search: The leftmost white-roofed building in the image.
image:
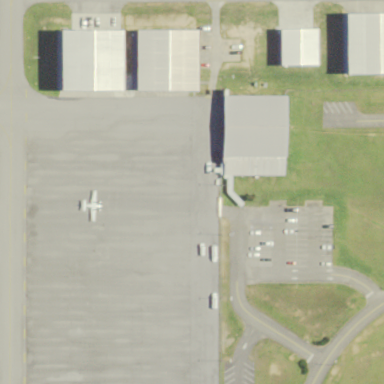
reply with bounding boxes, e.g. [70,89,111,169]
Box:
[58,31,126,92]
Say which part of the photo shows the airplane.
left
